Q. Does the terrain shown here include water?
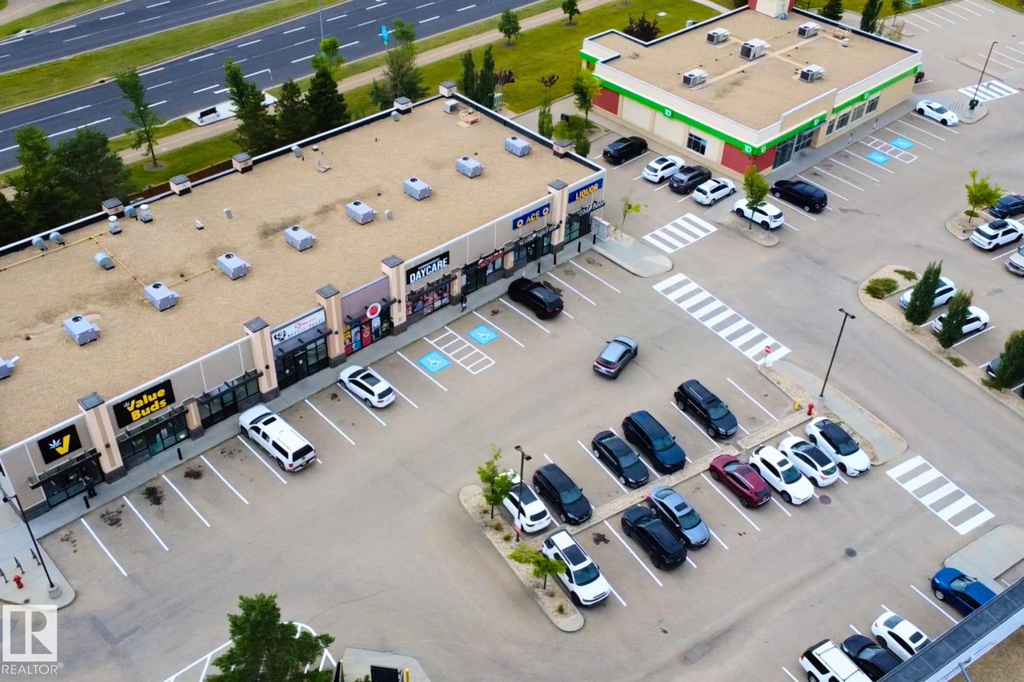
No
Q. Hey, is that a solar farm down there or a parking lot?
parking lot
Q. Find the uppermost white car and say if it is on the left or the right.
right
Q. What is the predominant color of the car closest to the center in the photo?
black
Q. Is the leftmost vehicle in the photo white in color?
Yes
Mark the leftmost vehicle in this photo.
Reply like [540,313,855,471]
[241,410,313,473]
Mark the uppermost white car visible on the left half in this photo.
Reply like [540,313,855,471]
[339,364,396,409]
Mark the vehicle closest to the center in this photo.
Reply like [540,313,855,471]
[510,280,562,318]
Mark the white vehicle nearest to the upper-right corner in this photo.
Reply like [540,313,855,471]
[917,101,959,124]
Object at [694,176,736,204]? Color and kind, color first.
white car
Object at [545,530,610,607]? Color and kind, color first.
white car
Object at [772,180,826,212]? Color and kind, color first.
black car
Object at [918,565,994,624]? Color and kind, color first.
blue car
